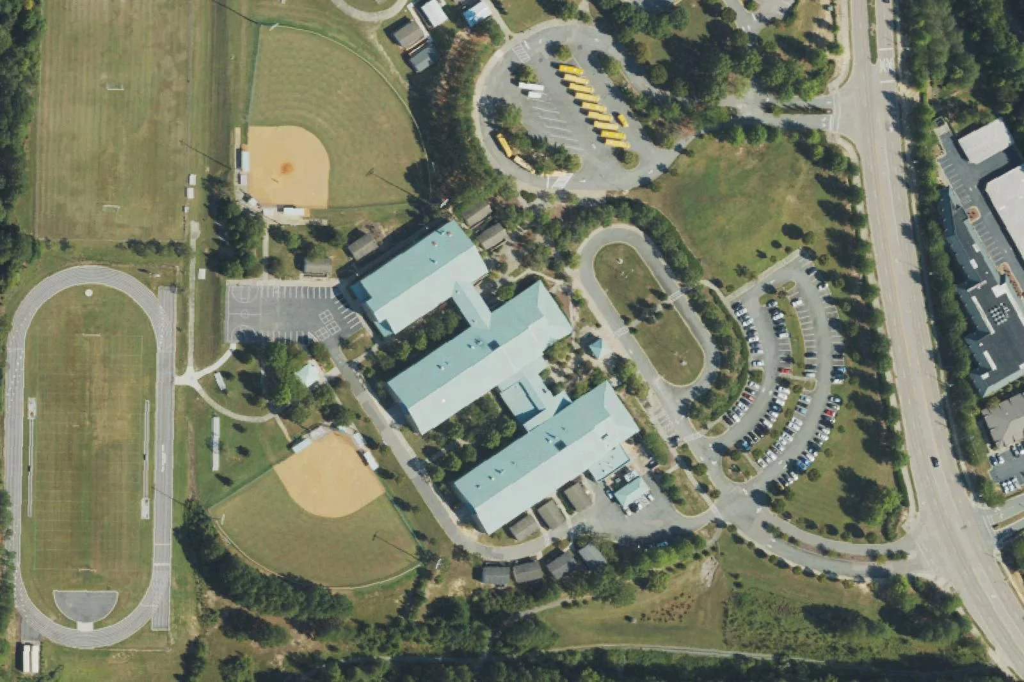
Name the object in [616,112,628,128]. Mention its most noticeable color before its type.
yellow vehicle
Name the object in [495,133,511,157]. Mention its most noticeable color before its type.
yellow vehicle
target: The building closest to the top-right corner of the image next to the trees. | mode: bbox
[951,118,1011,164]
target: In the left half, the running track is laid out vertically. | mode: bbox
[4,266,158,647]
